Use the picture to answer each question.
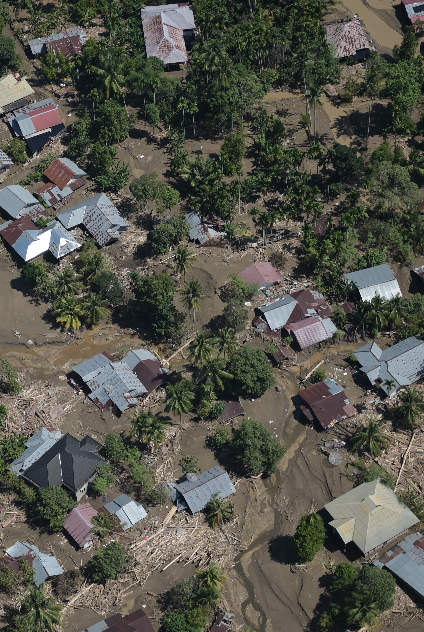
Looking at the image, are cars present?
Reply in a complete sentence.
No, the frame has no car in it.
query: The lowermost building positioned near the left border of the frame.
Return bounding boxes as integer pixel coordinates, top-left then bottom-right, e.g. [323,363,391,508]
[0,539,63,590]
